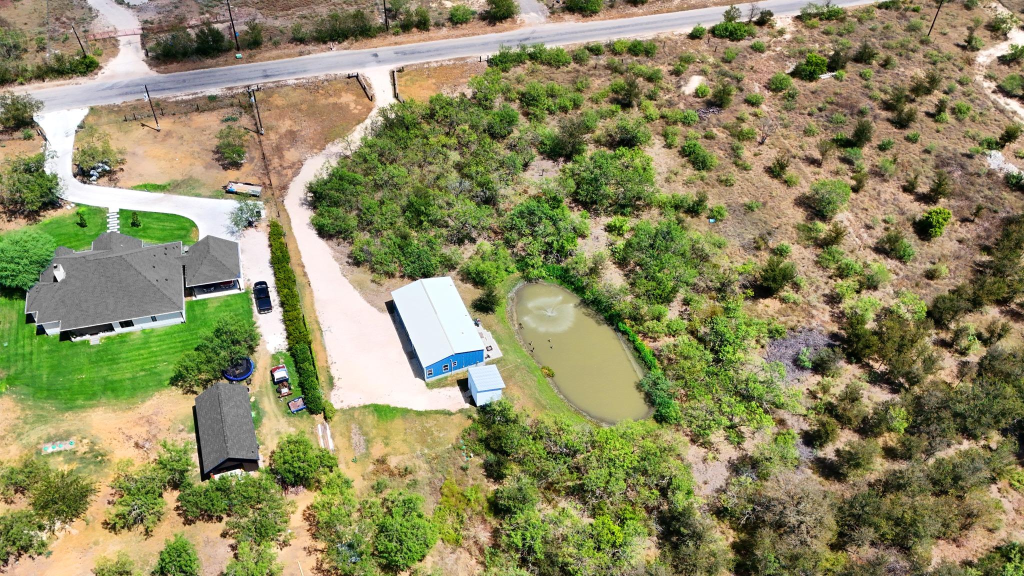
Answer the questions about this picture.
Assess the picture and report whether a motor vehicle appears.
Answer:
Yes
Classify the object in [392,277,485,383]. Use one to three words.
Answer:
building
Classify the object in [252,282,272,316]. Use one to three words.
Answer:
vehicle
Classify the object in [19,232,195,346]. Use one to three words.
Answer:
house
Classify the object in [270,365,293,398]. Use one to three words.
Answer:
truck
